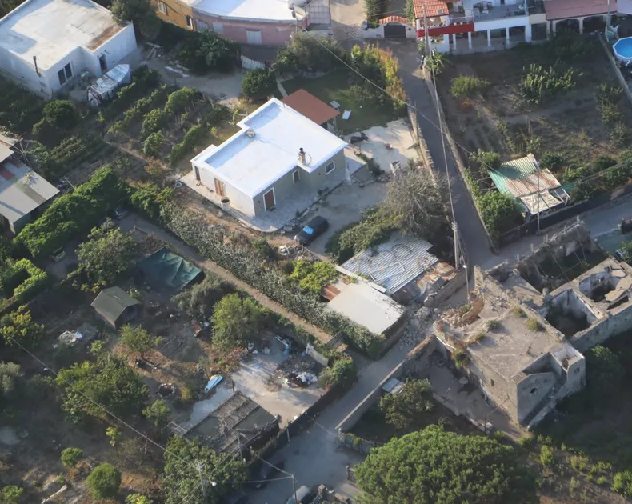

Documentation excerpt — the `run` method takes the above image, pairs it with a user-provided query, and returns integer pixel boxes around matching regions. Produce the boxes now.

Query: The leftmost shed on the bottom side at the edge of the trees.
[94,288,140,334]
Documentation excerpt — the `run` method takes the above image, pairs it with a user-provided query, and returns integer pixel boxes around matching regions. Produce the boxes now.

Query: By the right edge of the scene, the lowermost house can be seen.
[436,213,632,430]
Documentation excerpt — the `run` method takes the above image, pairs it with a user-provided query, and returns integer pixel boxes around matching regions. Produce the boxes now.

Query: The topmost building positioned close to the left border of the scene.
[0,0,136,99]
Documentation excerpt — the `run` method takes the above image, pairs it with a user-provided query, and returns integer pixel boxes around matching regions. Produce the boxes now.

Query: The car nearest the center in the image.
[295,216,328,246]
